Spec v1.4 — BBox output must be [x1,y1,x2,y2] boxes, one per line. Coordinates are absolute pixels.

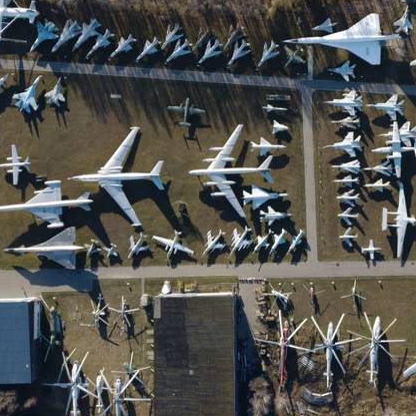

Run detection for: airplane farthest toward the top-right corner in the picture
[394,6,414,35]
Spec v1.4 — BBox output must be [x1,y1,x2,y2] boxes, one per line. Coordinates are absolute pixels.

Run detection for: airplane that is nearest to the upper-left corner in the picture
[30,18,59,51]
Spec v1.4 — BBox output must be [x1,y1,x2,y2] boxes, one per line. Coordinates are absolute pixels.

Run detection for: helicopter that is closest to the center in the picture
[264,282,293,310]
